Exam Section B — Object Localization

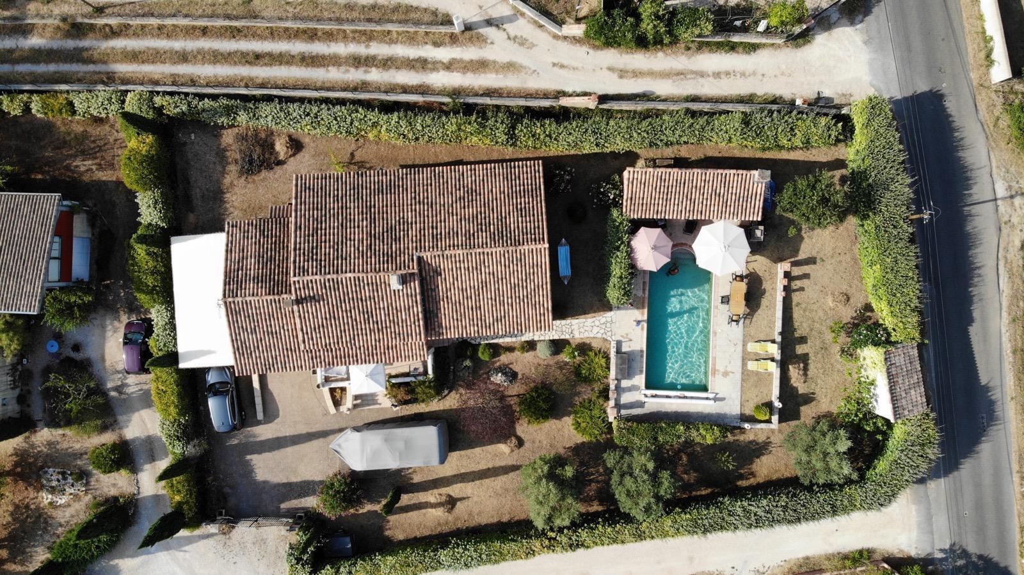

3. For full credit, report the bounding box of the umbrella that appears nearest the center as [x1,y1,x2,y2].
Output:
[629,229,671,271]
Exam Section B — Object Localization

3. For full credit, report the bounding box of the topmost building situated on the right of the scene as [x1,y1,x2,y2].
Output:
[621,168,772,223]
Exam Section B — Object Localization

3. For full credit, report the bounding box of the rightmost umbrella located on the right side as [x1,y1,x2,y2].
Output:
[692,222,746,275]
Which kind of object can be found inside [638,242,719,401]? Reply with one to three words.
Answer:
swimming pool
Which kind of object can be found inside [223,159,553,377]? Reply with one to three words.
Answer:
house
